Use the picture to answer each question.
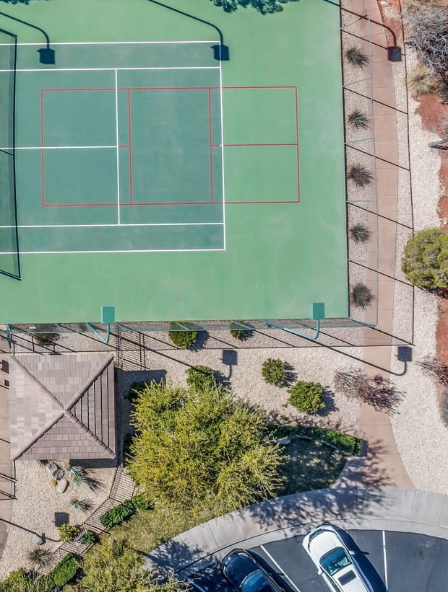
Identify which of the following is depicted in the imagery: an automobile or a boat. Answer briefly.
automobile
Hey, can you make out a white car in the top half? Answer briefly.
No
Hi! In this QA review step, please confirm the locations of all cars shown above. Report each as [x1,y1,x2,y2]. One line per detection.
[302,524,371,592]
[220,541,296,592]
